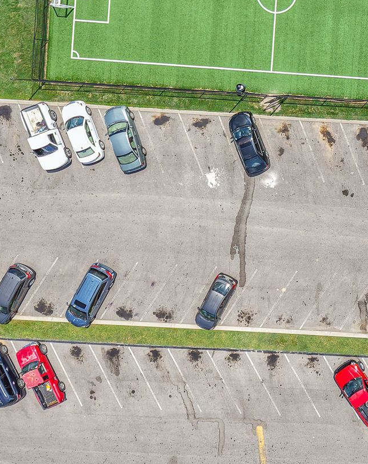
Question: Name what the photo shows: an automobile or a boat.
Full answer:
The one in the frame is an automobile.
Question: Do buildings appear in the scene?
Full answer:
No, the picture doesn't show any building.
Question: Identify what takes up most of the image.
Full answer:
For the most part, this view shows paved ground.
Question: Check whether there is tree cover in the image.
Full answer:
No, the scene doesn't show any tree cover.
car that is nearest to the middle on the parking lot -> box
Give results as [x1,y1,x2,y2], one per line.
[195,271,239,330]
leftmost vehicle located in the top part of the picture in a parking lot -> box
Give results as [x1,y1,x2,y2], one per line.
[20,101,71,173]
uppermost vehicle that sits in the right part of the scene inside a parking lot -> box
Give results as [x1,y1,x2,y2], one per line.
[231,110,270,178]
